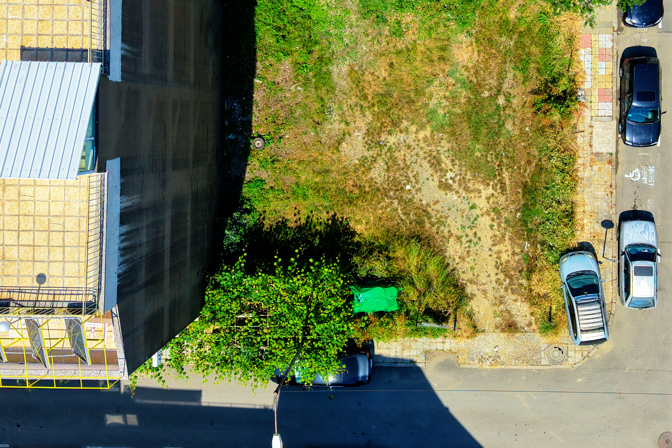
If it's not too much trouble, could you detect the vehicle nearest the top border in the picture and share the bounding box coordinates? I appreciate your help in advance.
[619,0,660,34]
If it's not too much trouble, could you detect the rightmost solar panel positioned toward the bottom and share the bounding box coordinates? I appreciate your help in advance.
[65,316,93,366]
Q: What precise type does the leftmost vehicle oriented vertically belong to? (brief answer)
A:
car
